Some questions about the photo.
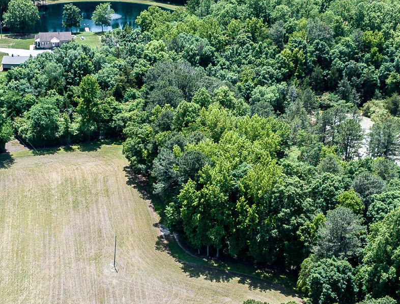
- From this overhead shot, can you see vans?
No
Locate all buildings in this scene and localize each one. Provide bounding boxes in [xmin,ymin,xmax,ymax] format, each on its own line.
[1,56,42,71]
[33,31,72,49]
